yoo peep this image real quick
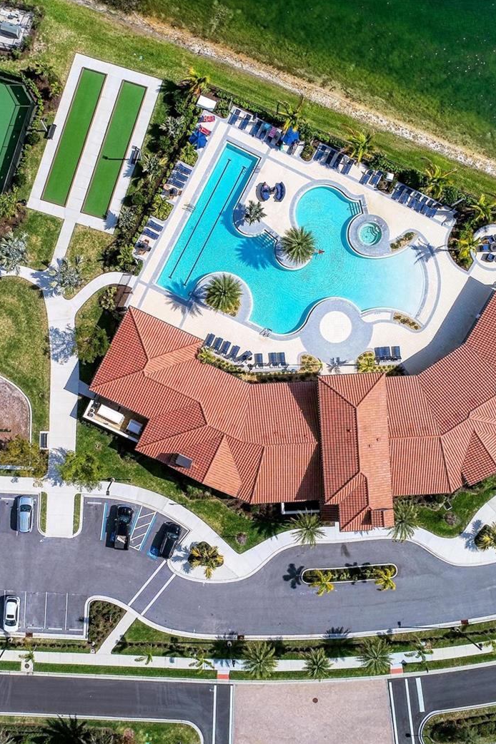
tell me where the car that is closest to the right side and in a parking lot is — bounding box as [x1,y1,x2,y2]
[156,522,182,560]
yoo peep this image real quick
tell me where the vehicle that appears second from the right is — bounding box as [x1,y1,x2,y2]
[113,504,132,551]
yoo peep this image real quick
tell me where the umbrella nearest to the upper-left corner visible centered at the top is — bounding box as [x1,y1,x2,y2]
[189,132,208,151]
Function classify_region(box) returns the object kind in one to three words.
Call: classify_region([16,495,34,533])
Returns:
car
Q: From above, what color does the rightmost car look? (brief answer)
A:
black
